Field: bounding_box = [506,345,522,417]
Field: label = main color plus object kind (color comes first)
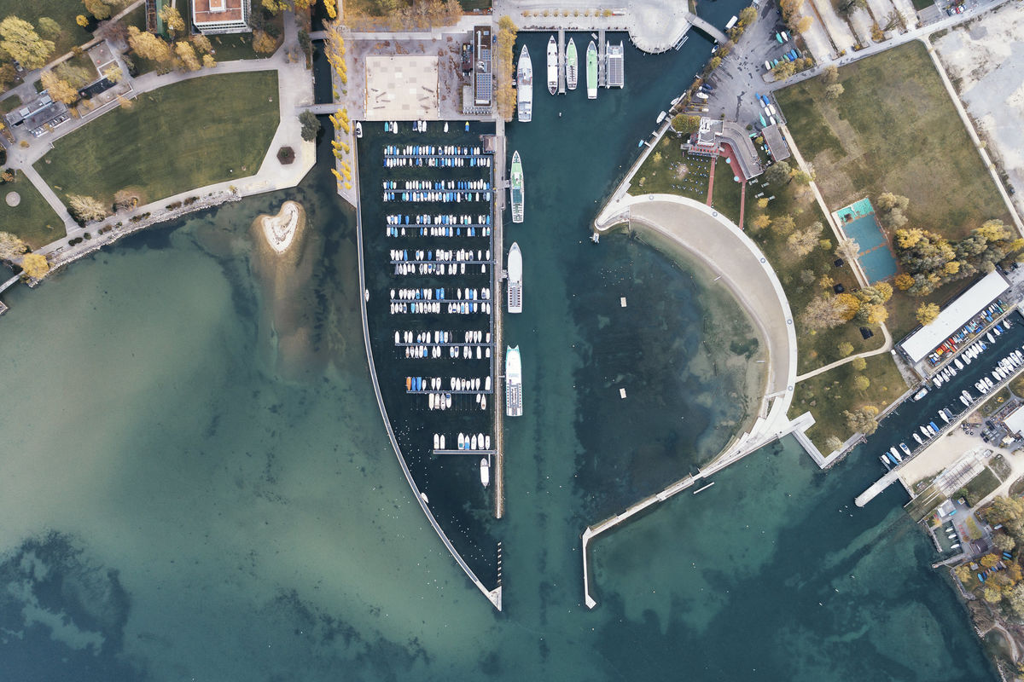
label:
white ship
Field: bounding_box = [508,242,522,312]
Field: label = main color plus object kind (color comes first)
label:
white ship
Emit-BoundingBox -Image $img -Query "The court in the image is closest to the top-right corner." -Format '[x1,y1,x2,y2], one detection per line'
[836,197,900,284]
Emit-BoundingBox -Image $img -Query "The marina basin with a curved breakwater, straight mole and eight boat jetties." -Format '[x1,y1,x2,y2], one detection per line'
[355,120,511,612]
